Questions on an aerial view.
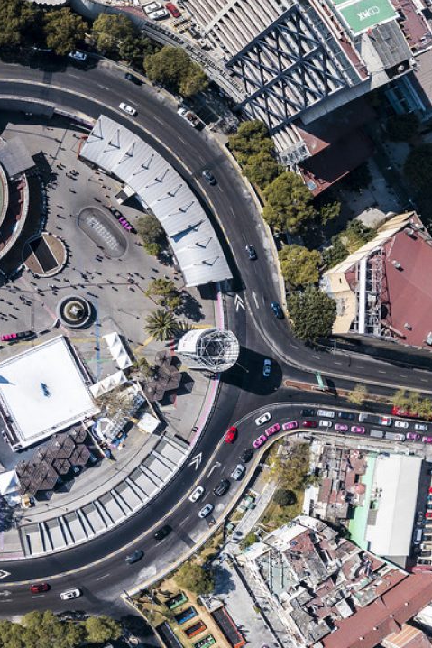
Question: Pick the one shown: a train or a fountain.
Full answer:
This aerial view contains a fountain.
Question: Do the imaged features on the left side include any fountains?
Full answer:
Yes, a fountain can be seen on the left side.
